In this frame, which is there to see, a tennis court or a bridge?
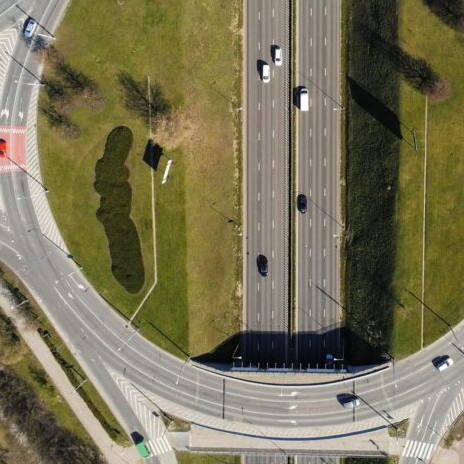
bridge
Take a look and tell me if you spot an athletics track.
No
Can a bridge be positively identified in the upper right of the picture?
No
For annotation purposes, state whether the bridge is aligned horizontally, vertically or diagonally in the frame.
horizontally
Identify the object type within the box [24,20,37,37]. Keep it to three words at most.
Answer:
vehicle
